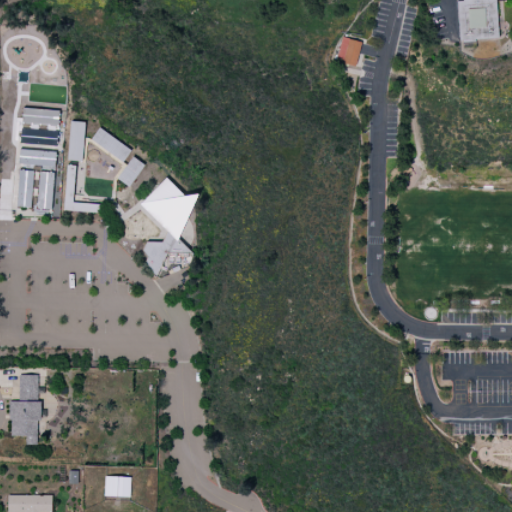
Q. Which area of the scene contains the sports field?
right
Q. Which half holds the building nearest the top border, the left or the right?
right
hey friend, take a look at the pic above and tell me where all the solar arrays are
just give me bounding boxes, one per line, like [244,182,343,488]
[22,127,58,136]
[21,135,58,144]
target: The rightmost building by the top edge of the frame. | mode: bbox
[459,0,500,42]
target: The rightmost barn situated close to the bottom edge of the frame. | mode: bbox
[104,477,132,499]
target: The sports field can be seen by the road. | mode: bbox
[396,190,512,312]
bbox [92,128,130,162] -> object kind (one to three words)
building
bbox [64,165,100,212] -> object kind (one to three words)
building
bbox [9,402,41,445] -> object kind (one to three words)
house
